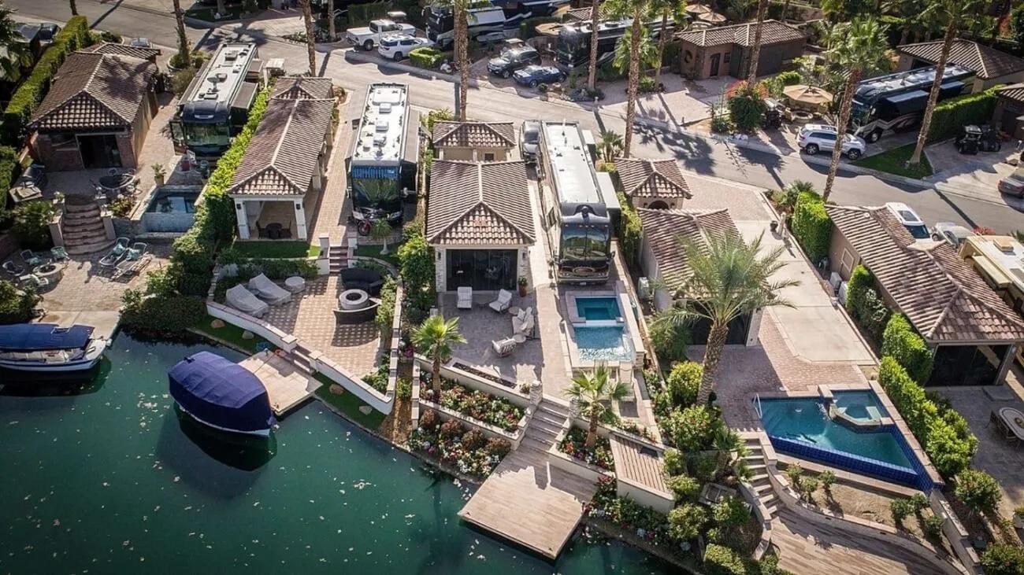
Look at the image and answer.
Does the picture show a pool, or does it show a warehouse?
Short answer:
pool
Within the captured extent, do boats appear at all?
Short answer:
Yes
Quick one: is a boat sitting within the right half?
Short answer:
No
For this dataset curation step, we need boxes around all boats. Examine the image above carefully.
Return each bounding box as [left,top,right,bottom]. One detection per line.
[163,356,290,440]
[0,317,105,375]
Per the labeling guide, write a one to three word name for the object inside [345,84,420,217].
camper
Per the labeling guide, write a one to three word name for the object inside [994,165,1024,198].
car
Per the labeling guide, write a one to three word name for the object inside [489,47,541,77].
car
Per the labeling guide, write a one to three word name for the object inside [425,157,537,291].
house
